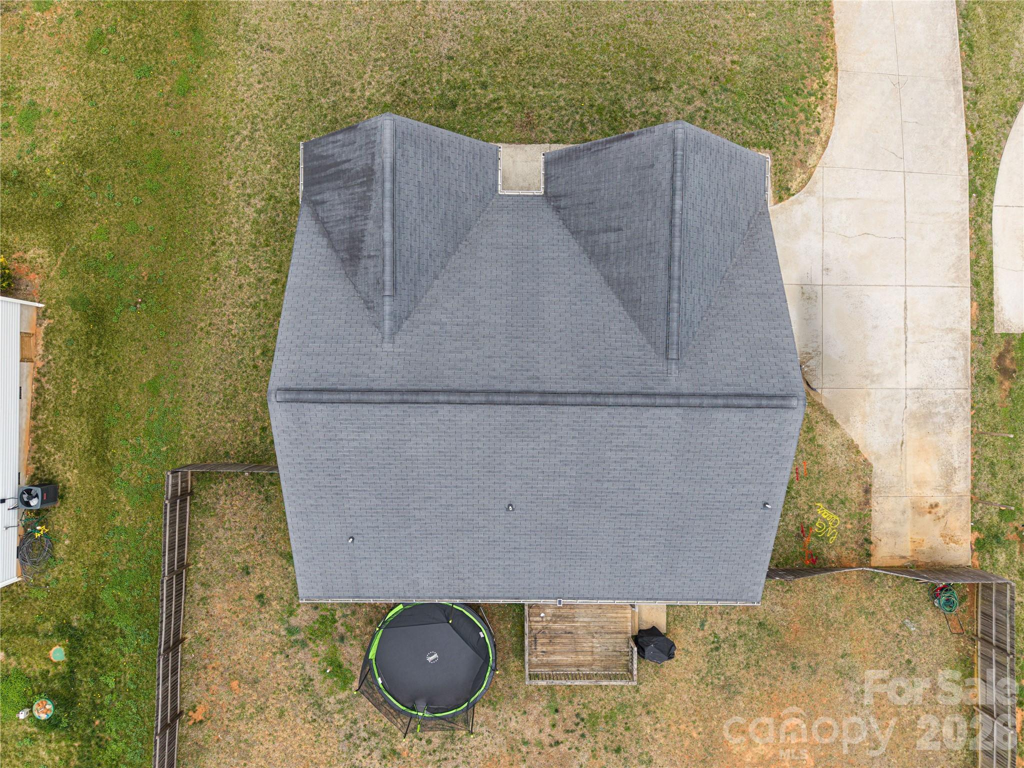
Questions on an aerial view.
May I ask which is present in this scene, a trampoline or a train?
trampoline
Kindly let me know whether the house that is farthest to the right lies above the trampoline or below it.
above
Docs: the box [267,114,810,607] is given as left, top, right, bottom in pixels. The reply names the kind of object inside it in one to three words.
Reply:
house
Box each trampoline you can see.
[354,603,499,741]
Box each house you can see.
[267,114,810,607]
[0,298,46,588]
